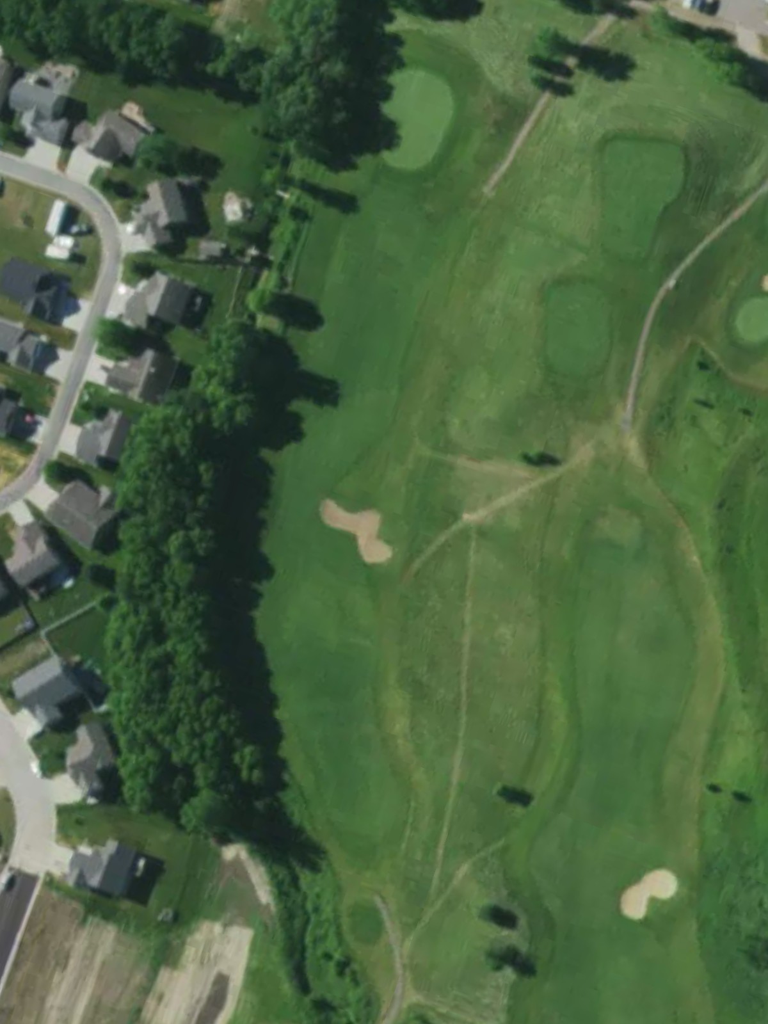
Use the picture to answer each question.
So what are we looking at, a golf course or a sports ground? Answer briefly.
golf course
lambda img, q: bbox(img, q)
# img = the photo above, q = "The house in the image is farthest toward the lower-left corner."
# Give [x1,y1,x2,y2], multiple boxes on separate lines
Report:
[64,837,137,900]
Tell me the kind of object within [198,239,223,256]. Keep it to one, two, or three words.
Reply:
shed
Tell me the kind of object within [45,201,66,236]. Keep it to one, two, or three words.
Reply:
vehicle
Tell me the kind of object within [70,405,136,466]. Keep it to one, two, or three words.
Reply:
house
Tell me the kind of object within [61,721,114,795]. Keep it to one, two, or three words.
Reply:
house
